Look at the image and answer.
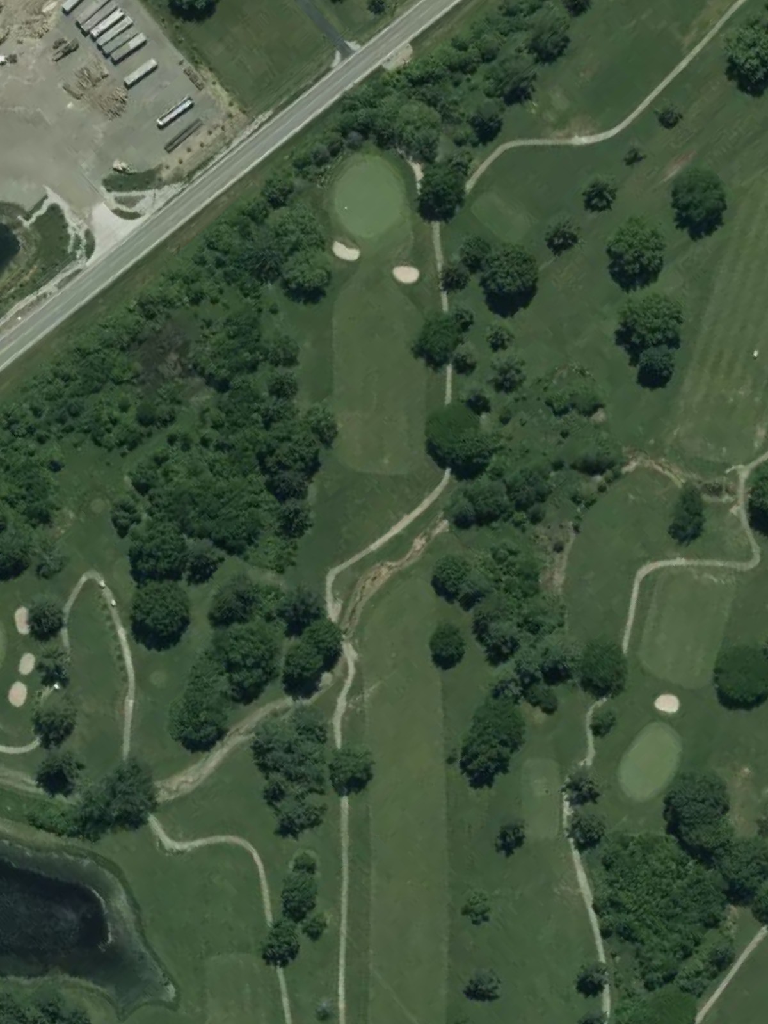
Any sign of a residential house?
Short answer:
No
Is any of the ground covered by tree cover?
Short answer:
Yes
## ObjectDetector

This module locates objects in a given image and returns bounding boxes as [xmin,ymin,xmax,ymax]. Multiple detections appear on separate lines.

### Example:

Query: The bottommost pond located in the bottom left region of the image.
[0,840,175,1013]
